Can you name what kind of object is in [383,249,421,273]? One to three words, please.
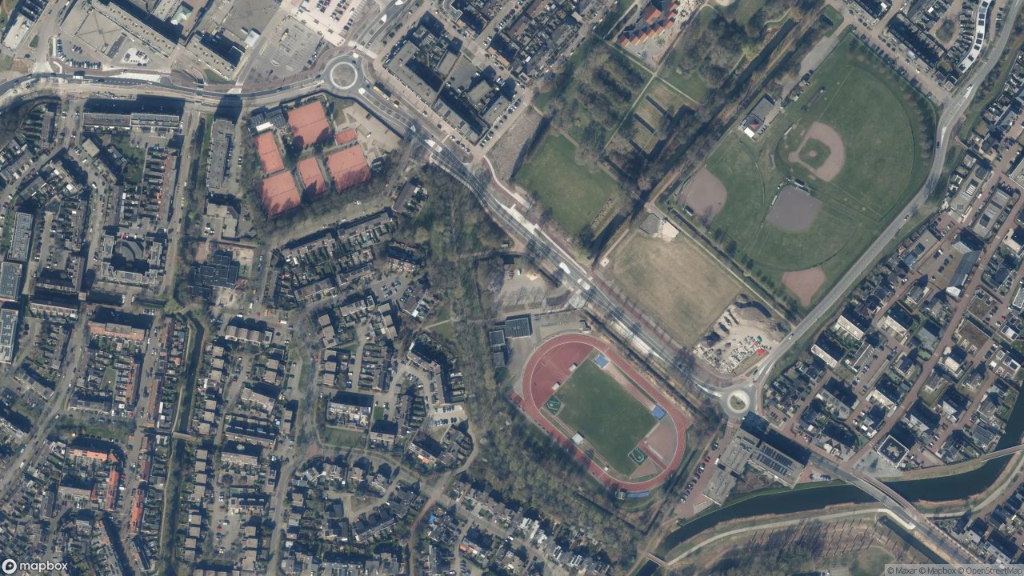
building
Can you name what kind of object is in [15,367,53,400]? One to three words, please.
building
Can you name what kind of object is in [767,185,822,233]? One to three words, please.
baseball field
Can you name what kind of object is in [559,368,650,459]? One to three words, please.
soccer field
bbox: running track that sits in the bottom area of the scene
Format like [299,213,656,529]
[514,335,696,491]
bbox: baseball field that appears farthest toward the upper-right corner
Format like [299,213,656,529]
[788,67,913,222]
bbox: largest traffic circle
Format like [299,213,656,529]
[324,56,364,96]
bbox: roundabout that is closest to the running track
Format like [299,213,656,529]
[723,386,755,418]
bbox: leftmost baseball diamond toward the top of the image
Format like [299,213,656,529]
[679,168,726,221]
